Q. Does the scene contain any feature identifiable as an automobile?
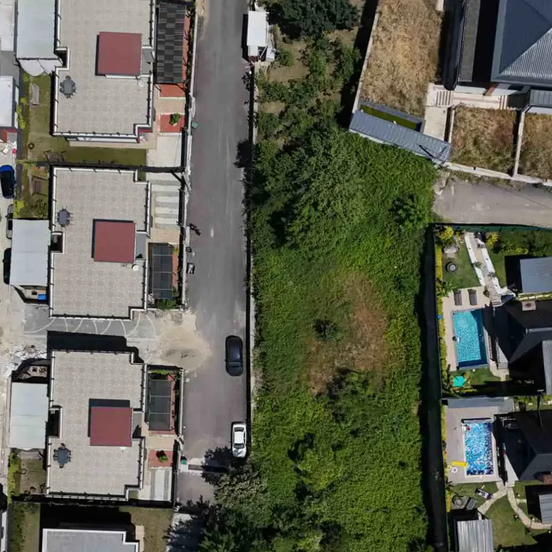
Yes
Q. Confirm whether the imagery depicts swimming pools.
Yes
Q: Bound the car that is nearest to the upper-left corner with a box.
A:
[0,164,18,200]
